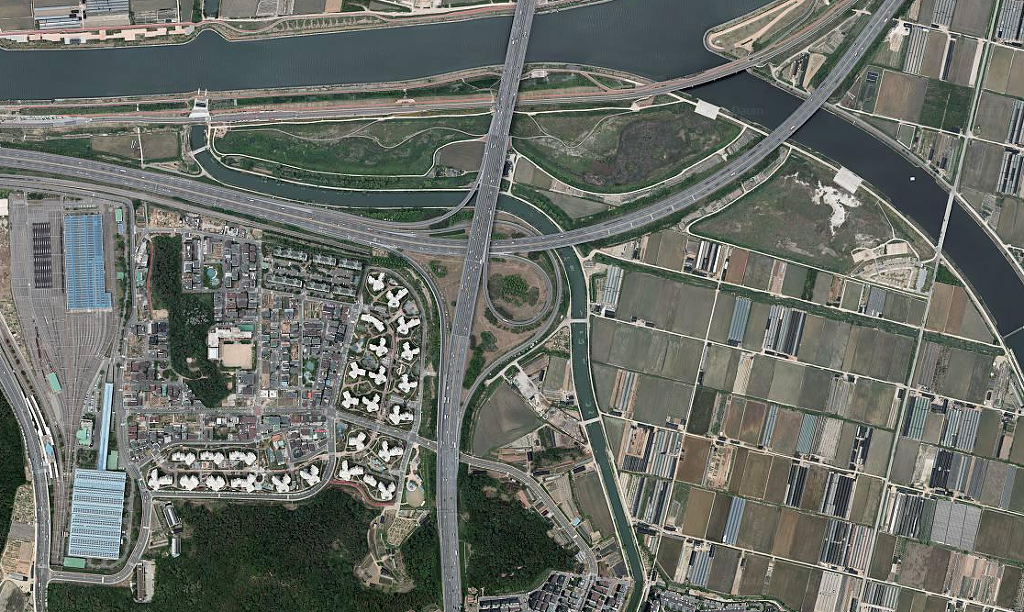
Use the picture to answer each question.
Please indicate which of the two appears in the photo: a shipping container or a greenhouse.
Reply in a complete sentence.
Of the two, only a greenhouse appears.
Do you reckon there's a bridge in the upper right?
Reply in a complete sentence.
Yes, a bridge is visible in the upper right.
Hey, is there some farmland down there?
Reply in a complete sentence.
Yes, the picture does contain farmland.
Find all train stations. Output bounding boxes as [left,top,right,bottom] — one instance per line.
[25,395,59,478]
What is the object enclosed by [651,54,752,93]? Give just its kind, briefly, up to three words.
bridge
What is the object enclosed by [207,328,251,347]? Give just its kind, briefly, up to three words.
building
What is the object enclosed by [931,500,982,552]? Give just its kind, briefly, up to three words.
greenhouse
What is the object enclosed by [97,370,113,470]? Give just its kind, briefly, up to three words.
shed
